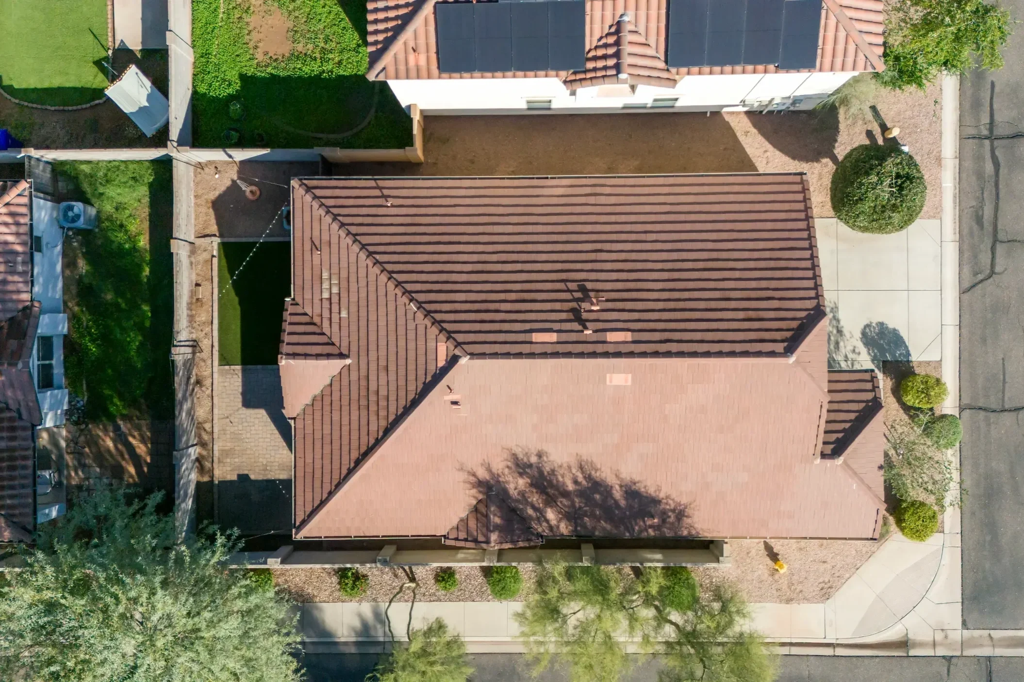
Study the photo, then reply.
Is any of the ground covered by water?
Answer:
No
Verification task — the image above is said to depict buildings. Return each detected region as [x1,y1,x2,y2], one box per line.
[100,62,168,138]
[0,176,68,547]
[363,0,892,119]
[277,174,887,553]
